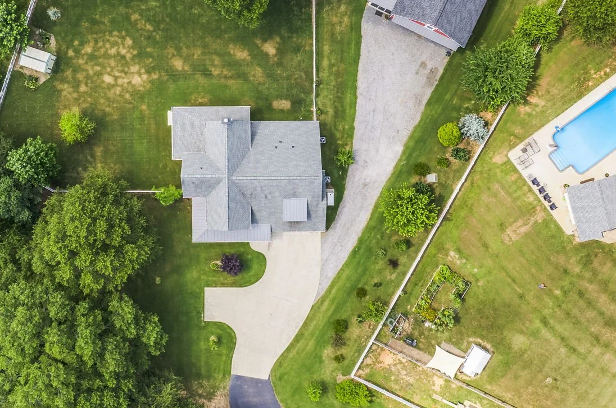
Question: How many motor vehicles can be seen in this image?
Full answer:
The photo contains no motor vehicles.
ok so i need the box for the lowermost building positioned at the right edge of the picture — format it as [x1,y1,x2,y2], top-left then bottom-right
[559,175,616,242]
